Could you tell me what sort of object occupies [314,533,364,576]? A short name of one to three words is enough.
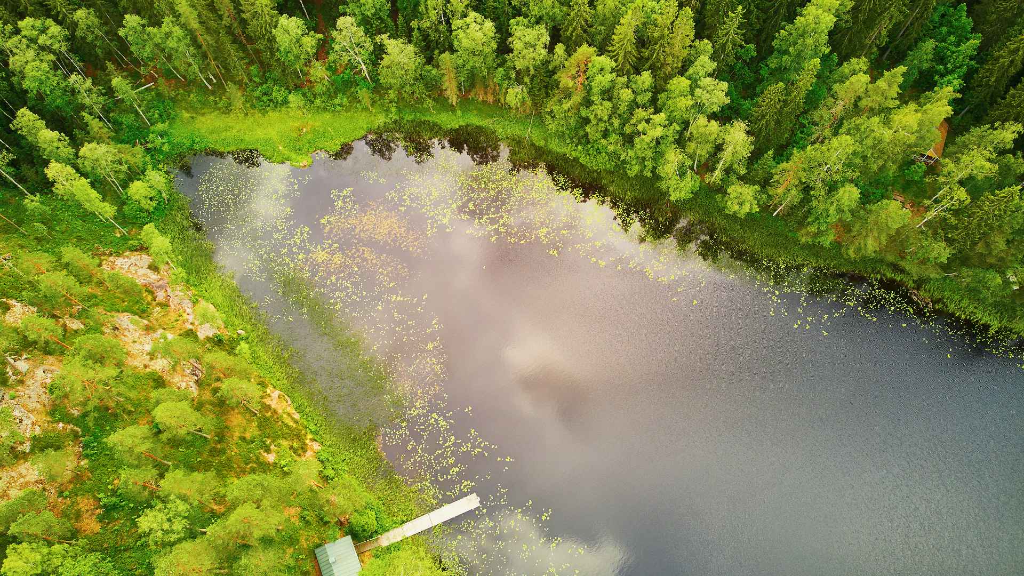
building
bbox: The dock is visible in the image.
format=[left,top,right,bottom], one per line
[354,493,481,554]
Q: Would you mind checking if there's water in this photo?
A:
Yes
